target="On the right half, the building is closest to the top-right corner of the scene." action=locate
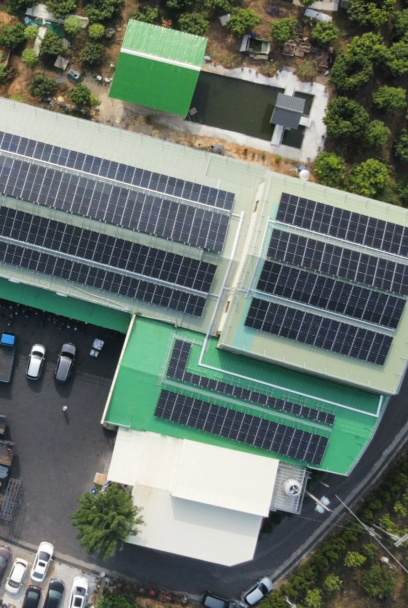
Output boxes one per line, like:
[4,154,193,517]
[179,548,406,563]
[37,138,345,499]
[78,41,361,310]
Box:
[265,87,313,145]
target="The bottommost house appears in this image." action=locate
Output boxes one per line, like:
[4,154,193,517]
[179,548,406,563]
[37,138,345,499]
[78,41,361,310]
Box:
[107,427,279,566]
